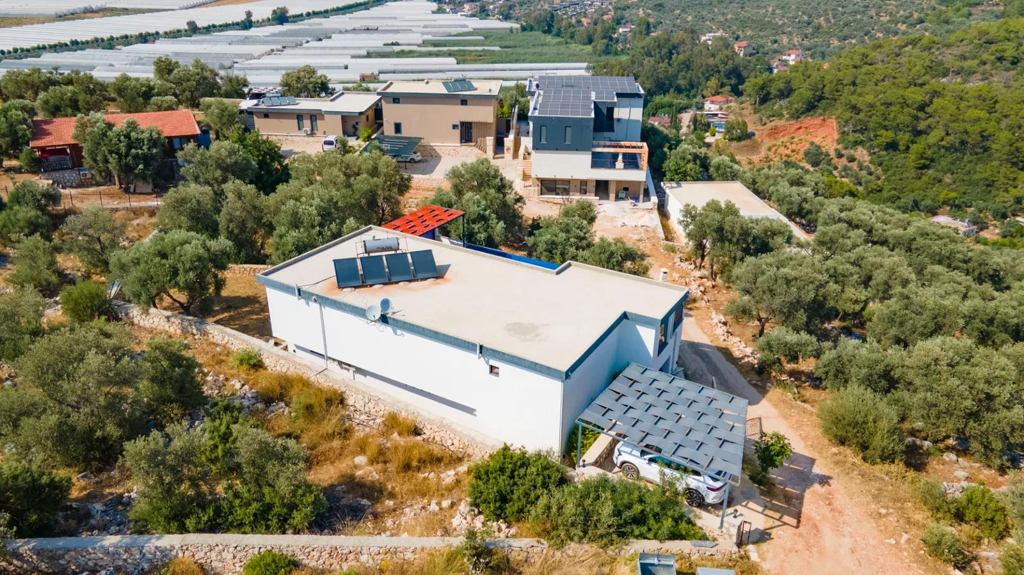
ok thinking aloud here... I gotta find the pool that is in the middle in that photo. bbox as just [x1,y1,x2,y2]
[454,236,563,268]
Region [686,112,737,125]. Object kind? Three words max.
shed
